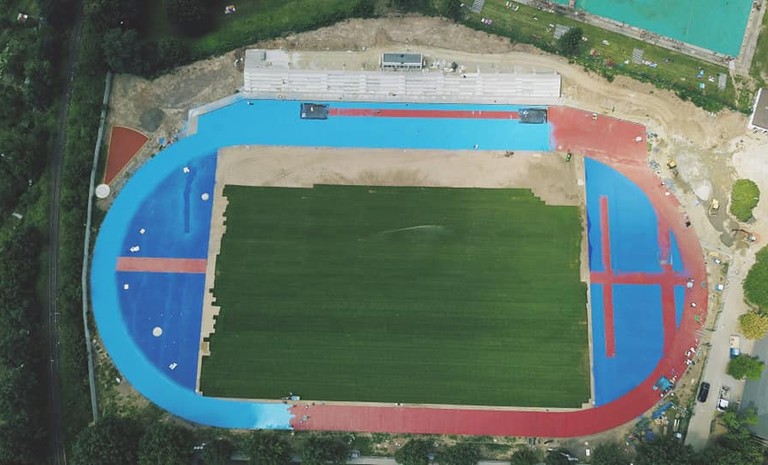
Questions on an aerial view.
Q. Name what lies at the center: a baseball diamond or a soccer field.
soccer field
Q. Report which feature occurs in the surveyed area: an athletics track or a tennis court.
athletics track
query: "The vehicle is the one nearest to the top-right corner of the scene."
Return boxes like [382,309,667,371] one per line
[666,157,681,177]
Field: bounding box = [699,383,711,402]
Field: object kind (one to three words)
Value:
vehicle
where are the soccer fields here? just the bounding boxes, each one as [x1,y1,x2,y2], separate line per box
[196,146,596,412]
